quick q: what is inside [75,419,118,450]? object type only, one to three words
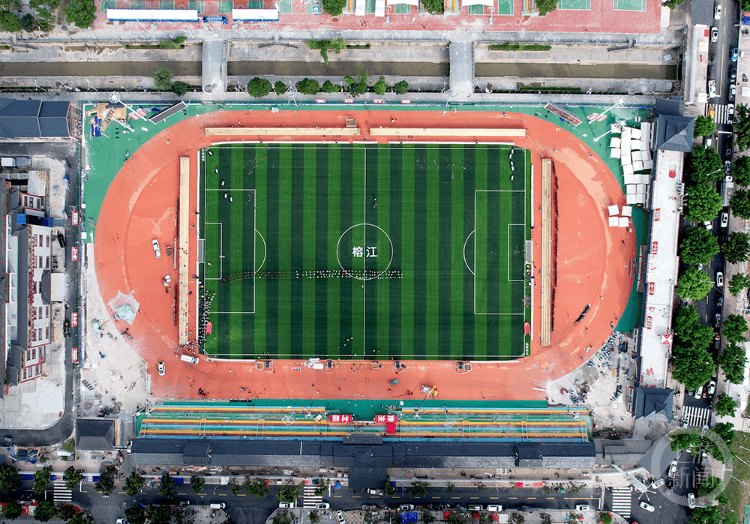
building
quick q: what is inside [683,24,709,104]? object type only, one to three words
house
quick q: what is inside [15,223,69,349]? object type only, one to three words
house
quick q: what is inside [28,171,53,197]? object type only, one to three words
shed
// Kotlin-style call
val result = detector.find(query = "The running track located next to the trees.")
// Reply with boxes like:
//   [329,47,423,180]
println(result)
[94,110,637,401]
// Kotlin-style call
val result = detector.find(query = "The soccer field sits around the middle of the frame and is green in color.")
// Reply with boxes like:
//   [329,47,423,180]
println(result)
[199,144,531,360]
